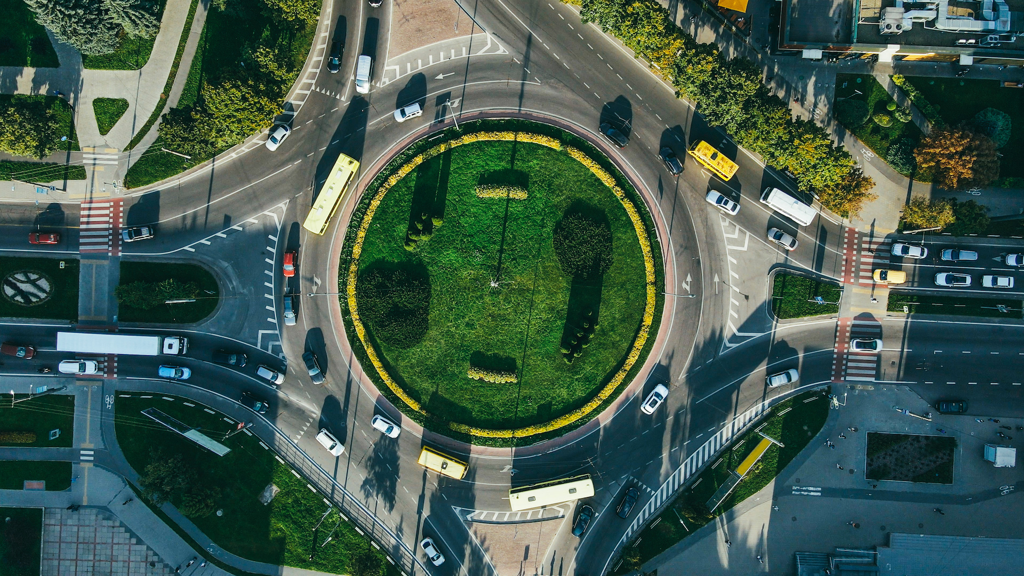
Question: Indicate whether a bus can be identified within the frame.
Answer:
Yes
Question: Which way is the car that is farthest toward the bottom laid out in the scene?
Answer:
diagonally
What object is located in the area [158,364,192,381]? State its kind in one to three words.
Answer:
car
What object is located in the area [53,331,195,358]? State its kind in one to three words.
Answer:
truck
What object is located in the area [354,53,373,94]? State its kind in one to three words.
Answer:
vehicle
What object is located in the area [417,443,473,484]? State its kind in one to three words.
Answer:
bus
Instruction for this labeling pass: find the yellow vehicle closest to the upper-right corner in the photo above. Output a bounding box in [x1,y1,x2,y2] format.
[872,268,909,284]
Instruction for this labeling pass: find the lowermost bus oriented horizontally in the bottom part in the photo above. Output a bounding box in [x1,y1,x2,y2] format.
[508,471,598,513]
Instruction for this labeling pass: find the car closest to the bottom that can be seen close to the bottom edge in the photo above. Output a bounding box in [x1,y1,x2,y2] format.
[419,535,445,566]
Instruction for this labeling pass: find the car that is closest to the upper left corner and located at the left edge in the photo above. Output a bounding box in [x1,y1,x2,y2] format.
[29,230,61,246]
